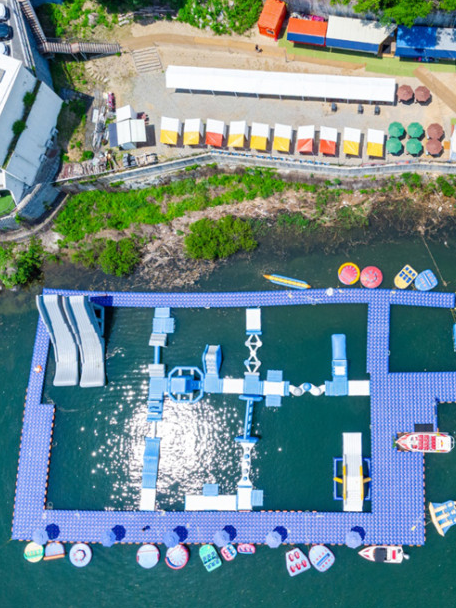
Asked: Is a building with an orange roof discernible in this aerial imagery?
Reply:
Yes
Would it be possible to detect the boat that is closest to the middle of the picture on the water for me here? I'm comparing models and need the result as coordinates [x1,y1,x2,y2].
[263,273,311,292]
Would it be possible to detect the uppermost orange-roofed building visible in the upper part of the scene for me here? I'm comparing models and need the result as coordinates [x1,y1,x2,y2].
[287,19,327,51]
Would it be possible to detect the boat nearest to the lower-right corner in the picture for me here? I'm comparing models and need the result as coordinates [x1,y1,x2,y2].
[361,546,408,562]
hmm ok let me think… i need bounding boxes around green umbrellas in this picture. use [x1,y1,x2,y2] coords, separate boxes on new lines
[387,123,404,140]
[405,140,422,156]
[386,139,402,156]
[406,123,423,140]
